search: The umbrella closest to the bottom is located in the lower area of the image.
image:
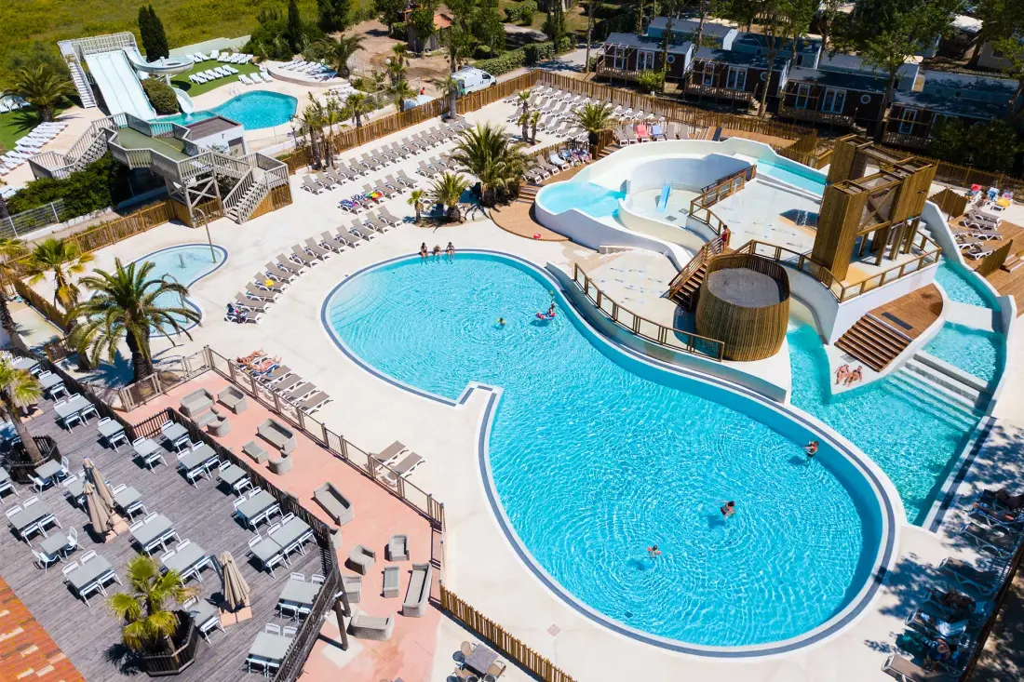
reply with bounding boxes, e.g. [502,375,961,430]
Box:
[210,550,256,628]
